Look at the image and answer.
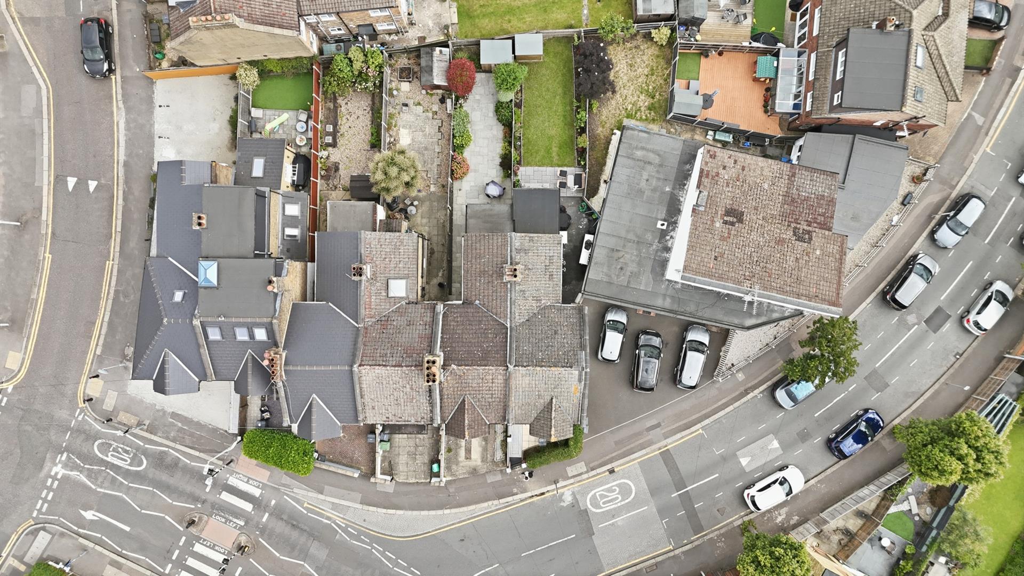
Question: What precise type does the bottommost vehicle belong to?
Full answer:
In the photo, the bottommost vehicle shows up as an automobile.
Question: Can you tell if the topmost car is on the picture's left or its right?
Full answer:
It is on the right.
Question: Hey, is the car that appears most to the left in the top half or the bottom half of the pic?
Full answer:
The car that appears most to the left is in the top half of the image.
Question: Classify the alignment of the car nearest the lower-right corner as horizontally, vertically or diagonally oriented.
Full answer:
I'd say the car nearest the lower-right corner is aligned diagonally in the picture.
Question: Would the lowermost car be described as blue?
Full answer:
No, the color of the lowermost car is white.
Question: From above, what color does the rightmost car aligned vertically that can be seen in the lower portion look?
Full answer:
From above, the rightmost car aligned vertically that can be seen in the lower portion appears white.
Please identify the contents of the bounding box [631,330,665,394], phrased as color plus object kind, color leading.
gray car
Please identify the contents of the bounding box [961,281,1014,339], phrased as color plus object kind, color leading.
white car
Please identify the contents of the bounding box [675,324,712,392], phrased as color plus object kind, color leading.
white car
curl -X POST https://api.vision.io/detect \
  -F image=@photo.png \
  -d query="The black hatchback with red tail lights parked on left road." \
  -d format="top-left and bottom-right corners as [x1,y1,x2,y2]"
[80,17,115,80]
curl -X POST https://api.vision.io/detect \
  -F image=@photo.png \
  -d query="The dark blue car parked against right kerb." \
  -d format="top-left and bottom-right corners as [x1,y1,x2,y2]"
[825,407,886,462]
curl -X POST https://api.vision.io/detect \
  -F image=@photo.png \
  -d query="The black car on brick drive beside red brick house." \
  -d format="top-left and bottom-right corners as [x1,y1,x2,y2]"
[968,0,1013,30]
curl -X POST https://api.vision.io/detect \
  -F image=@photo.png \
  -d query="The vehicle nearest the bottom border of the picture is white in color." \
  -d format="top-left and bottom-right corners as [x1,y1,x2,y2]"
[743,465,804,513]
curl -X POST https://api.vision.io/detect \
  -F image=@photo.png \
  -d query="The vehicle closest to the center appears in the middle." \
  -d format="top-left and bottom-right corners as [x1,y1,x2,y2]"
[597,307,628,365]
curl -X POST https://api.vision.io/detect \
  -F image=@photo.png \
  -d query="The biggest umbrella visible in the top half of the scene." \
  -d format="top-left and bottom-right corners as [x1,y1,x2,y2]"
[700,86,724,111]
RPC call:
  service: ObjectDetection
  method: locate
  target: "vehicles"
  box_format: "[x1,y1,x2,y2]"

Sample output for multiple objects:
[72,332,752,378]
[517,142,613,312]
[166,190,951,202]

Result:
[597,307,628,365]
[961,281,1014,339]
[968,0,1013,30]
[772,359,830,409]
[825,407,886,462]
[743,465,804,513]
[631,330,665,394]
[882,254,938,312]
[675,324,712,392]
[80,17,115,80]
[932,190,986,248]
